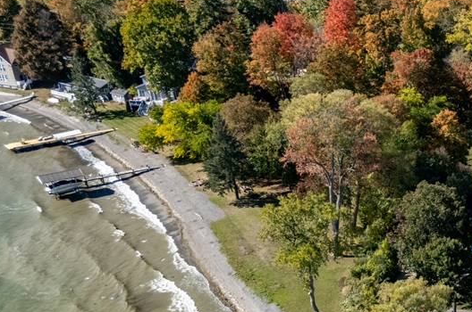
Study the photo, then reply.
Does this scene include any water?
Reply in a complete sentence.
Yes, there's water in this view.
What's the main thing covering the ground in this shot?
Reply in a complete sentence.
What you mostly see from above here is trees.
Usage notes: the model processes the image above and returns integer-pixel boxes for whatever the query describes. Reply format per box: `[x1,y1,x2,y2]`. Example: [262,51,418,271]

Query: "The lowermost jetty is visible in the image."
[84,158,165,186]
